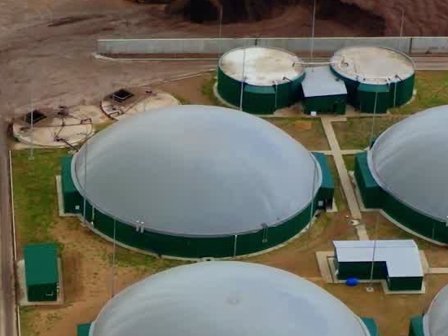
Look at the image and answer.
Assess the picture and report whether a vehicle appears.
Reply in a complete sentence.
No, I find no vehicle anywhere in the image.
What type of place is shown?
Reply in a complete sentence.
The area seen from above is an industrial area.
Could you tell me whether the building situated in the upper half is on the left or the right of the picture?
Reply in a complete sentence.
The building situated in the upper half appears in the right half of the scene.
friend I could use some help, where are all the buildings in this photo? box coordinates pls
[319,238,432,298]
[11,242,63,305]
[294,64,349,120]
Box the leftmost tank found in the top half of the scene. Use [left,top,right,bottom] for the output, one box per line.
[11,108,93,150]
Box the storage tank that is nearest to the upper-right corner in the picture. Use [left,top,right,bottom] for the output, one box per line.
[330,47,416,116]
